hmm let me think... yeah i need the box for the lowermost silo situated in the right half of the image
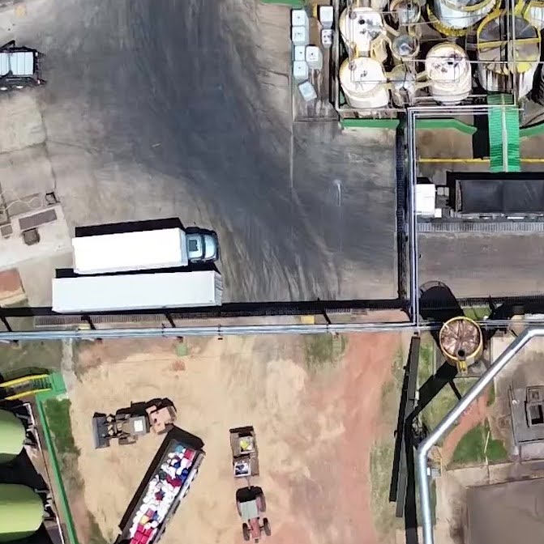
[437,314,498,387]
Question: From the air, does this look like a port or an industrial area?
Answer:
industrial area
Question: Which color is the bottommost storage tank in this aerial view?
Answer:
green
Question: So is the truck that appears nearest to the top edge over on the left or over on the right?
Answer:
left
